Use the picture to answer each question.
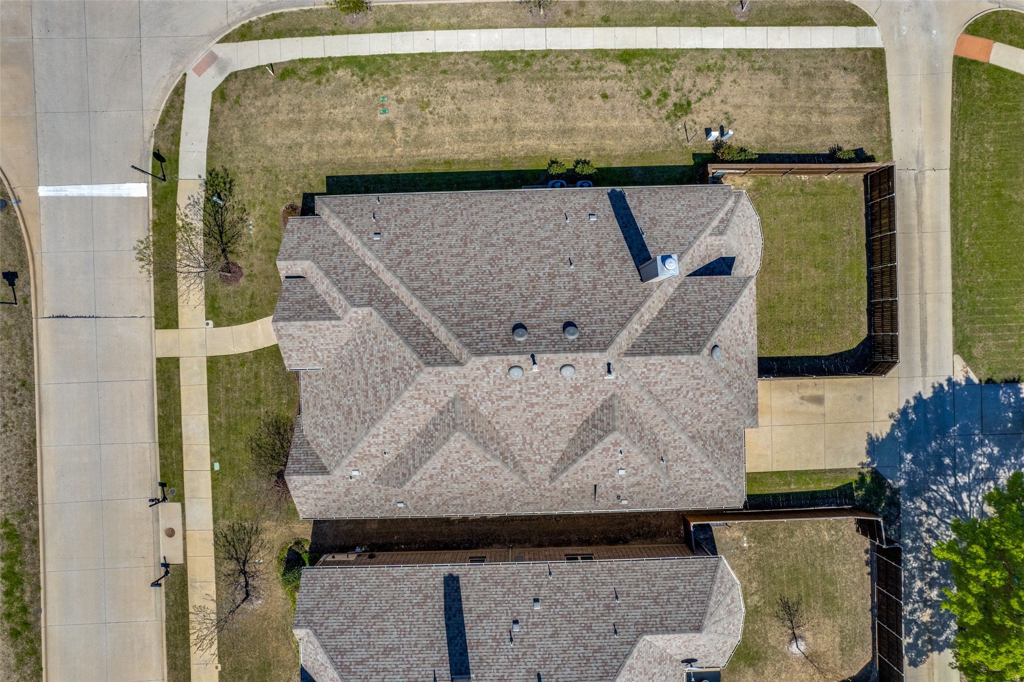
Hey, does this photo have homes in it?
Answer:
Yes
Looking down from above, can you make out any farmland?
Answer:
No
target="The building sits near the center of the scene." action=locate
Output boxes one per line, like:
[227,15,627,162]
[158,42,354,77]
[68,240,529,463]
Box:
[272,185,765,522]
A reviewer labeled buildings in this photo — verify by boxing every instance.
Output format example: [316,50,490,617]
[272,185,765,522]
[280,543,747,682]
